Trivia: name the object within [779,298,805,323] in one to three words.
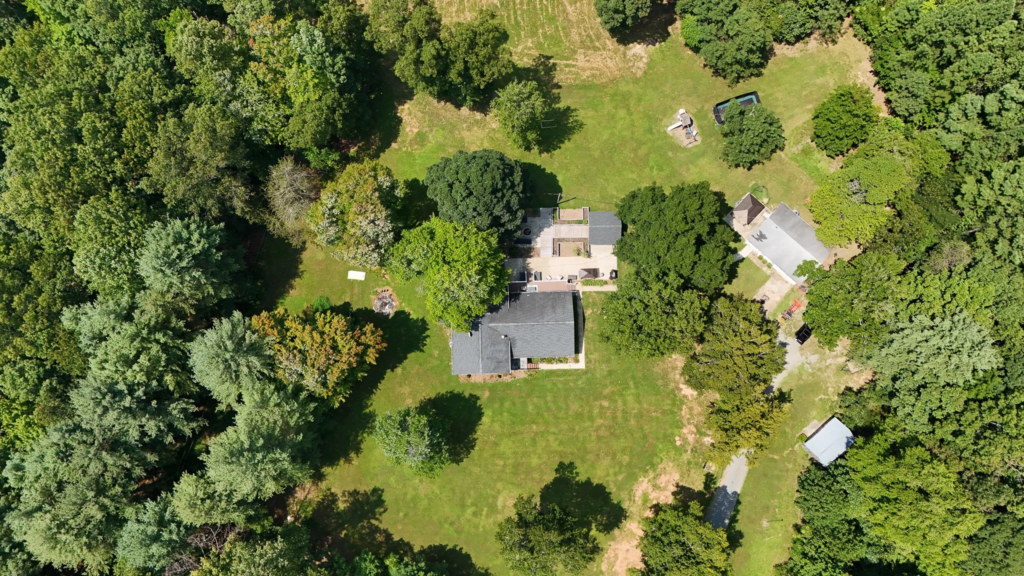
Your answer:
work vehicle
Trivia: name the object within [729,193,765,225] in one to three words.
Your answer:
gazebo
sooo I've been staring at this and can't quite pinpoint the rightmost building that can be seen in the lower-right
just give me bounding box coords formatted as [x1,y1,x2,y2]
[799,415,855,468]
